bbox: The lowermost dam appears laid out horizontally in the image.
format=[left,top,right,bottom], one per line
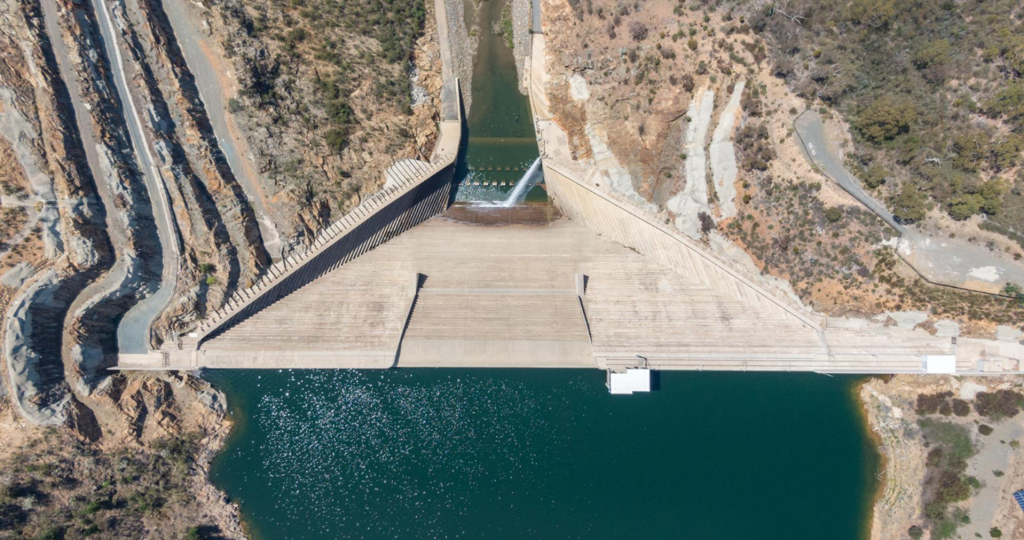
[114,155,1024,372]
